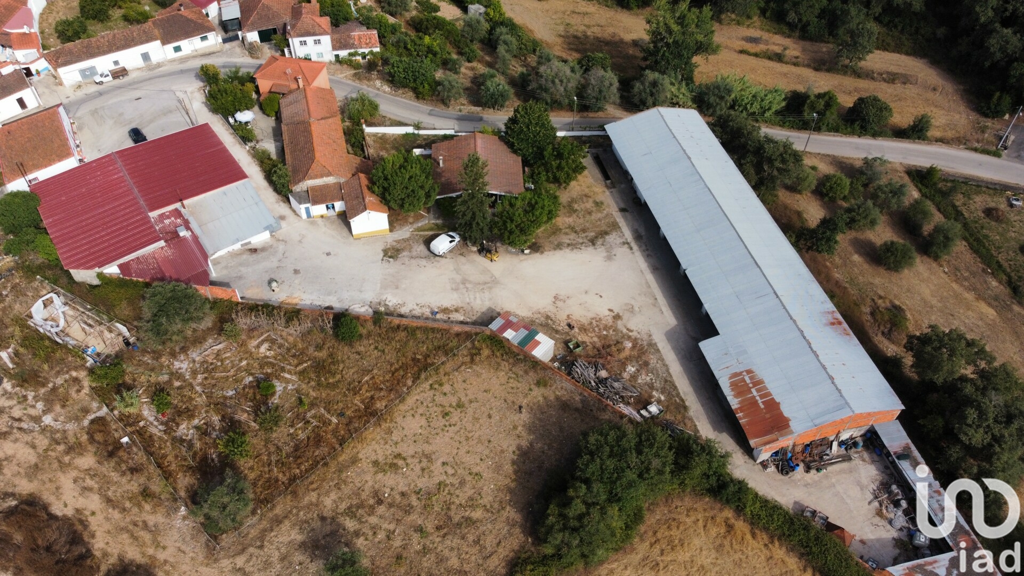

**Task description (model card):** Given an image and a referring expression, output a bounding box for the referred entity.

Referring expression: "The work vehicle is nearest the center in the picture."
[476,242,500,263]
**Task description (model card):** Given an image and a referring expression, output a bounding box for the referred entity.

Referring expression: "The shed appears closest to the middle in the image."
[488,311,554,363]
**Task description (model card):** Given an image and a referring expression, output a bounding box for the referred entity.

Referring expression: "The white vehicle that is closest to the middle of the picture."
[430,230,459,257]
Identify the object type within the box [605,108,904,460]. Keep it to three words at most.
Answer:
warehouse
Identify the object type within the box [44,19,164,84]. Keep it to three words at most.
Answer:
barn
